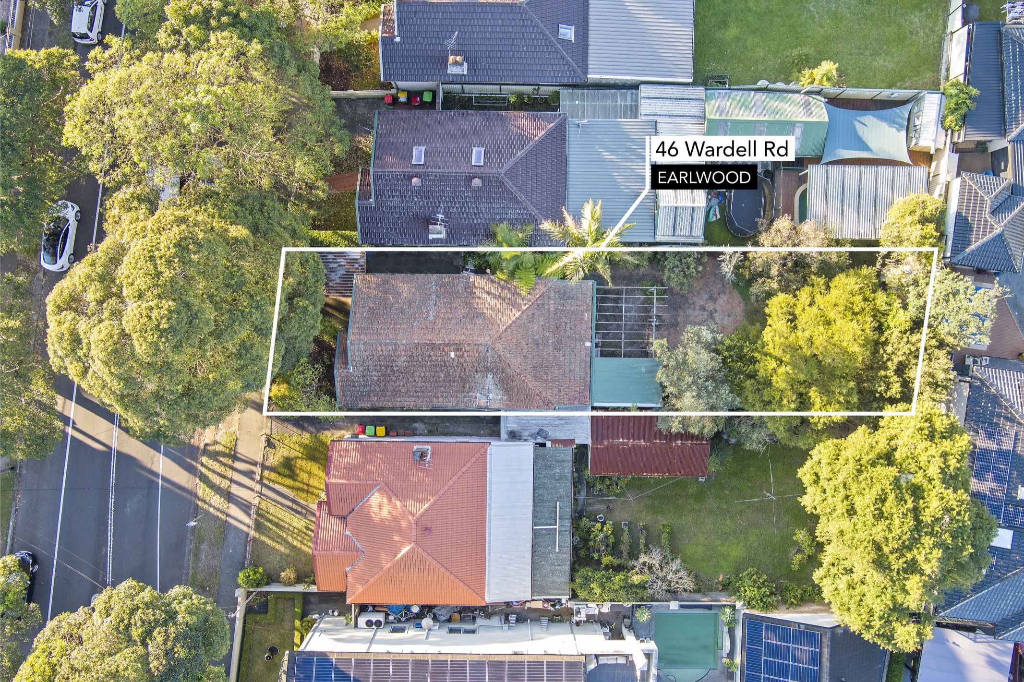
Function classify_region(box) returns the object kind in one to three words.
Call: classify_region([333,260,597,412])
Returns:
house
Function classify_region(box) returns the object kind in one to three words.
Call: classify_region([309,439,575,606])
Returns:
house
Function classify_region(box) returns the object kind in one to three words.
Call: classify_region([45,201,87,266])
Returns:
car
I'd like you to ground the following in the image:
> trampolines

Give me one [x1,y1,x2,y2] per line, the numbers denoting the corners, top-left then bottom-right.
[725,163,774,237]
